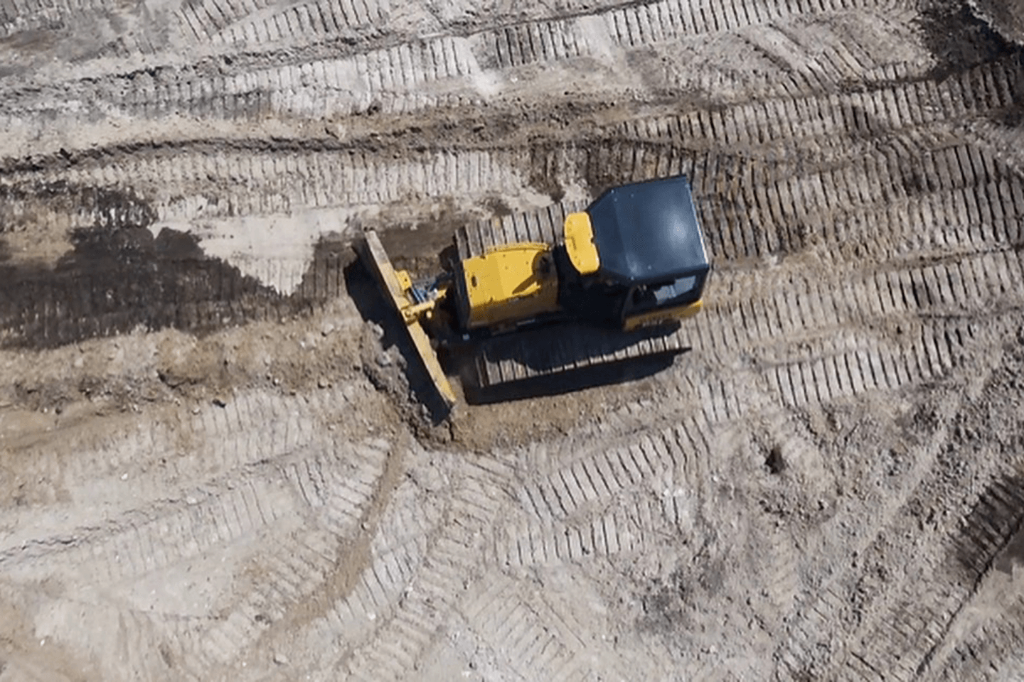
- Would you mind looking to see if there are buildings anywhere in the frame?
No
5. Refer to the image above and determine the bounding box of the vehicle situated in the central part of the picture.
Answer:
[364,176,713,418]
